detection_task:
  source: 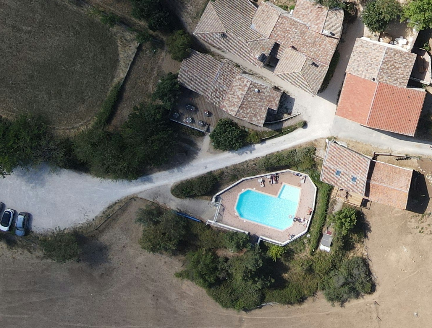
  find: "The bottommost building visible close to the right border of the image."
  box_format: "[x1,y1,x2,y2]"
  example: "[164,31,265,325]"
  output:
[320,135,414,210]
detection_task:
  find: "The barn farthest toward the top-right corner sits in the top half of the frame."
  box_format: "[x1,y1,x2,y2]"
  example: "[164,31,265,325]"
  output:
[335,38,427,139]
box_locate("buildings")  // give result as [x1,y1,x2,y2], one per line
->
[193,0,348,97]
[320,225,334,249]
[177,47,288,126]
[335,38,427,139]
[320,135,414,210]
